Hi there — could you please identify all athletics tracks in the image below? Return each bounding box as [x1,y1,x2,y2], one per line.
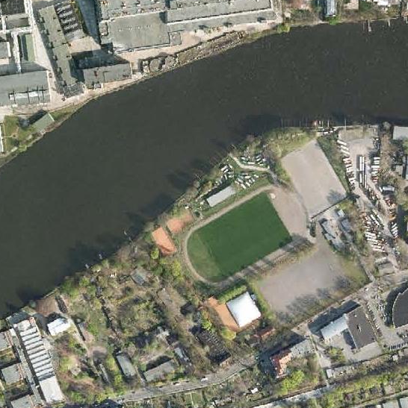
[180,183,303,282]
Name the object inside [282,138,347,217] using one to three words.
sports field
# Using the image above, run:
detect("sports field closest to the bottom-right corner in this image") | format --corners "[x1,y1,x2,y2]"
[258,251,366,321]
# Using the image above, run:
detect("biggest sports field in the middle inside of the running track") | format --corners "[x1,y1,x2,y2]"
[195,192,288,274]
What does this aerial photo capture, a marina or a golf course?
marina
